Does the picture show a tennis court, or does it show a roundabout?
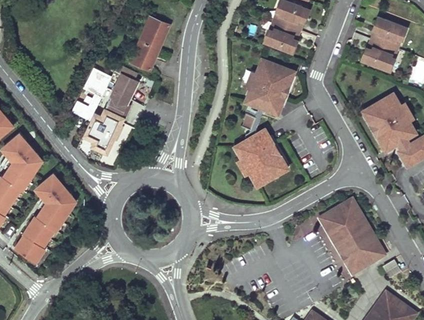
roundabout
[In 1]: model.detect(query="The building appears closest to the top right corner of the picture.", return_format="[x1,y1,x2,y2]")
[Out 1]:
[368,14,410,54]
